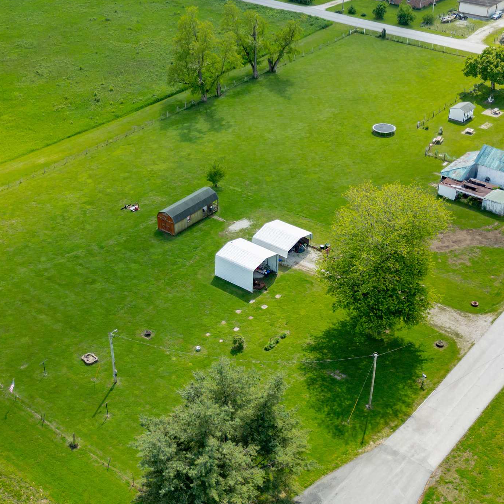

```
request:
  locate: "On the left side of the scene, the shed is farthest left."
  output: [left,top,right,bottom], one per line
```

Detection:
[154,187,220,236]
